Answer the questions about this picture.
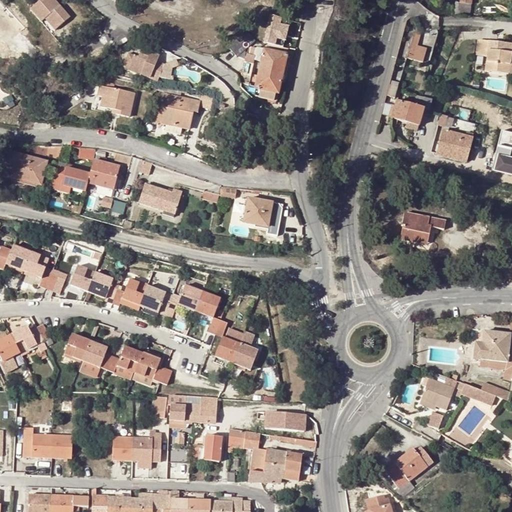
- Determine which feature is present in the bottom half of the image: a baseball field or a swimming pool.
swimming pool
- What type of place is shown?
residential area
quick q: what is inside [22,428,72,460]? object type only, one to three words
house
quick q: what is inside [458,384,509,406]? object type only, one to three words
building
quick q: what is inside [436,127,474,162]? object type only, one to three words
house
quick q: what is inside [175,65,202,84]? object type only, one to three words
swimming pool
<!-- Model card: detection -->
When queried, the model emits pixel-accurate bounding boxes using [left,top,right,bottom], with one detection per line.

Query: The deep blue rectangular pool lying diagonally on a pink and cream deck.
[458,404,487,436]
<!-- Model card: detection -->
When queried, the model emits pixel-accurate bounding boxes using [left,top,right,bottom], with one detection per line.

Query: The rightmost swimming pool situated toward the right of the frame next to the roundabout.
[427,345,462,366]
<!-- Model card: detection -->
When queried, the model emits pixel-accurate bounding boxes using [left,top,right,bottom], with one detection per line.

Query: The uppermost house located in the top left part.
[30,0,70,28]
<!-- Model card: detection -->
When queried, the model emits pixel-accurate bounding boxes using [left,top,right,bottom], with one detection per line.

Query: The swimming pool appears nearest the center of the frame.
[229,225,250,238]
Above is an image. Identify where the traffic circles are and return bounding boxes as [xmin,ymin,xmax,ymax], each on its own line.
[326,302,411,386]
